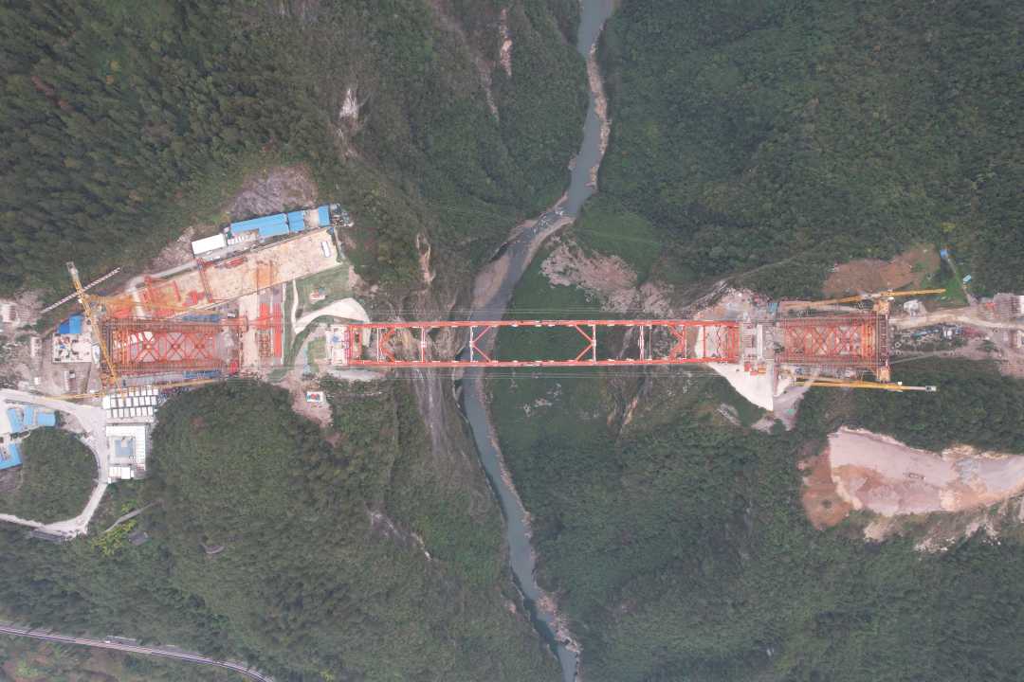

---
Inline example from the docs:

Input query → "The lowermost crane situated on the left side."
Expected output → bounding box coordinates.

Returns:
[45,371,230,402]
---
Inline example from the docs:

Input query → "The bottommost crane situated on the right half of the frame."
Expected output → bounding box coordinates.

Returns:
[782,370,937,393]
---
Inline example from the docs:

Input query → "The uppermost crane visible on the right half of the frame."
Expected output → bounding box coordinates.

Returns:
[776,288,947,313]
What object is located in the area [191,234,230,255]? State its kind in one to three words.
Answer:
shed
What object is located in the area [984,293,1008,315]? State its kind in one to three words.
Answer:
building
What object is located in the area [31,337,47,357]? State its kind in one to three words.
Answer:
house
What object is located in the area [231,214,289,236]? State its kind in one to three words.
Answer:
shed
